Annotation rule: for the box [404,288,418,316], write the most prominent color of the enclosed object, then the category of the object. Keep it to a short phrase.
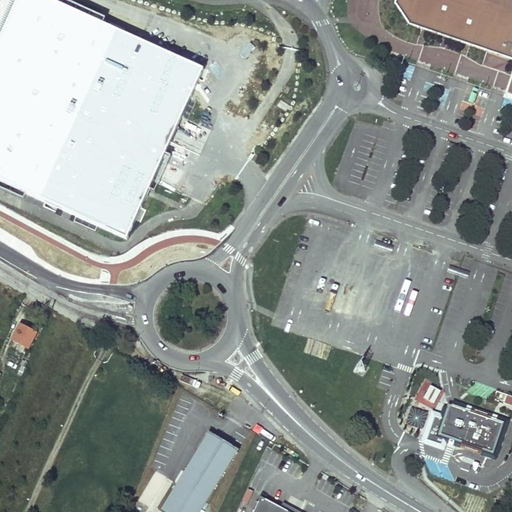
white vehicle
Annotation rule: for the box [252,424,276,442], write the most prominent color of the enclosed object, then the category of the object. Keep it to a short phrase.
white vehicle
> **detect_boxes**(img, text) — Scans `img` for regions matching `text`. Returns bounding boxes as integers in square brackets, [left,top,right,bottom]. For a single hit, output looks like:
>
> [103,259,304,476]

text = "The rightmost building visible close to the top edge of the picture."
[395,0,512,59]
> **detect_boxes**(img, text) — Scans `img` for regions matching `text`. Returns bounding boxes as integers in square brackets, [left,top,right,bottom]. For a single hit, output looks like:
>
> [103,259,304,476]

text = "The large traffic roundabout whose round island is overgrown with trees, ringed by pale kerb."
[135,260,246,371]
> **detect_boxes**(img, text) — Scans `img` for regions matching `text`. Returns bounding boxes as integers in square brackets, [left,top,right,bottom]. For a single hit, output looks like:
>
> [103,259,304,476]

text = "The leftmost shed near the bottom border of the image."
[132,471,174,512]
